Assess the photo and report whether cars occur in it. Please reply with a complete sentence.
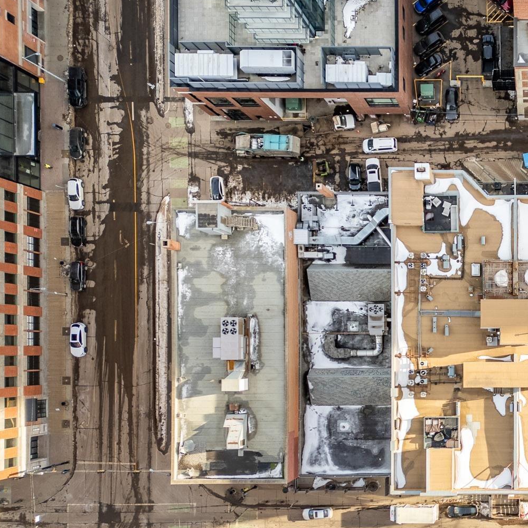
Yes, a car is visible in the scene.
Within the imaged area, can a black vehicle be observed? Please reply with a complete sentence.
Yes, there is a black vehicle in the image.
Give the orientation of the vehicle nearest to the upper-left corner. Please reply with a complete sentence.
The vehicle nearest to the upper-left corner has been laid out vertically relative to the frame.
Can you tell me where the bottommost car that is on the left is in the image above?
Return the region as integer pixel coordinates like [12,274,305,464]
[69,323,88,357]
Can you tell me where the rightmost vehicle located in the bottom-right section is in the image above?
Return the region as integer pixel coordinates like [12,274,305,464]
[447,503,478,519]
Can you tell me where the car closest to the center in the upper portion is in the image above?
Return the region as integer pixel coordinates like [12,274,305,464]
[208,172,226,203]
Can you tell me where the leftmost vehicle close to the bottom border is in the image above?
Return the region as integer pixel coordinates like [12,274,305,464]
[302,506,333,522]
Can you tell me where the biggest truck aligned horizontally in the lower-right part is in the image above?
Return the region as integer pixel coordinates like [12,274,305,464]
[390,504,437,527]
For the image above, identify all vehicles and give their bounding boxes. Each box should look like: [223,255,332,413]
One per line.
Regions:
[67,260,88,293]
[66,66,87,108]
[68,126,88,160]
[208,172,226,203]
[365,157,382,191]
[390,504,437,527]
[69,323,88,357]
[317,113,356,129]
[415,5,448,36]
[67,178,86,209]
[414,51,444,78]
[412,28,447,59]
[491,0,514,13]
[231,132,302,155]
[68,216,88,248]
[345,161,362,191]
[302,506,333,522]
[363,136,398,154]
[412,0,442,15]
[447,503,478,519]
